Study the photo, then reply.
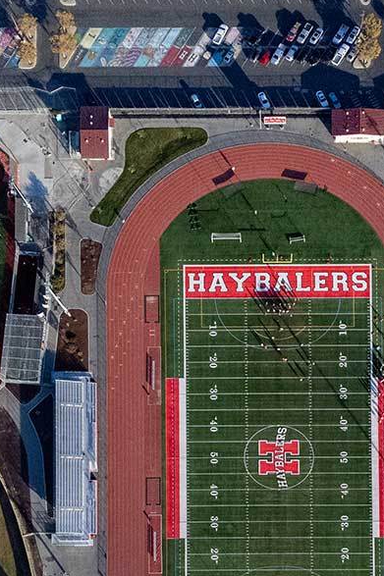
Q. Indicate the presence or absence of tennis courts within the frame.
No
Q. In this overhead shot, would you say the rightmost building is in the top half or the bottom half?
top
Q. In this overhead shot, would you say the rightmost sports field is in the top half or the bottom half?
bottom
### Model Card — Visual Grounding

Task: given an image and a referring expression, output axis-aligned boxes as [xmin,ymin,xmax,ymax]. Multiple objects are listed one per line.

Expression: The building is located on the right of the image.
[332,106,384,141]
